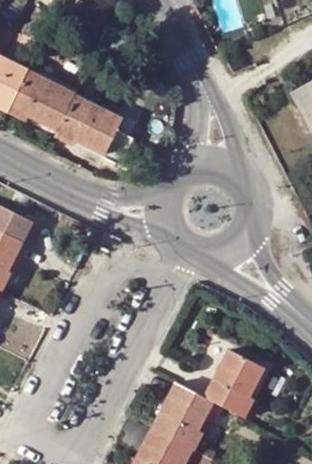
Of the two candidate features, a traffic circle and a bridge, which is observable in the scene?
traffic circle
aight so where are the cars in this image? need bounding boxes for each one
[55,321,68,340]
[119,312,131,329]
[92,319,107,338]
[70,354,84,374]
[50,402,64,422]
[109,334,122,353]
[66,294,78,312]
[60,378,74,396]
[70,406,84,424]
[294,226,306,244]
[132,290,144,308]
[24,375,38,394]
[18,446,40,462]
